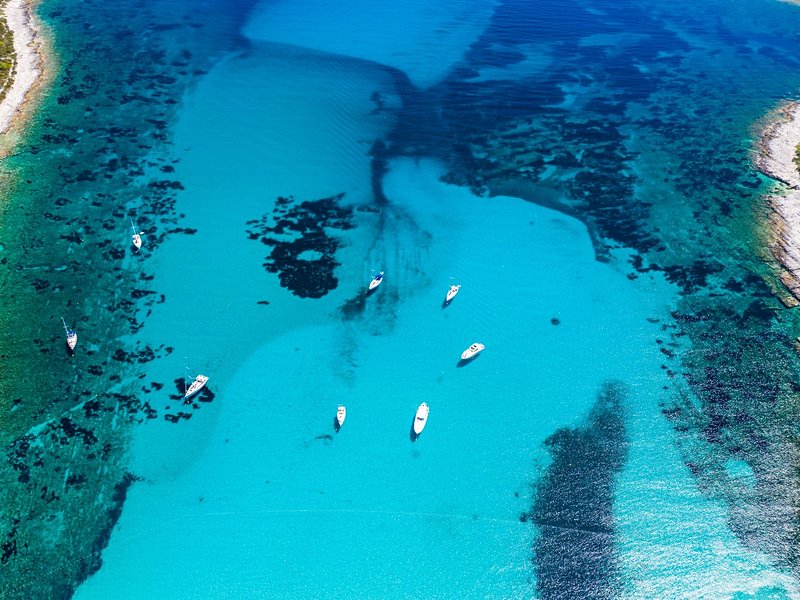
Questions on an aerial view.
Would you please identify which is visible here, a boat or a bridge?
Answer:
boat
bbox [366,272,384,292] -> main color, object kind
white boat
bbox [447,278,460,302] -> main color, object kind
white boat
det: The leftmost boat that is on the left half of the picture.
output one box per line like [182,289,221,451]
[62,316,77,351]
